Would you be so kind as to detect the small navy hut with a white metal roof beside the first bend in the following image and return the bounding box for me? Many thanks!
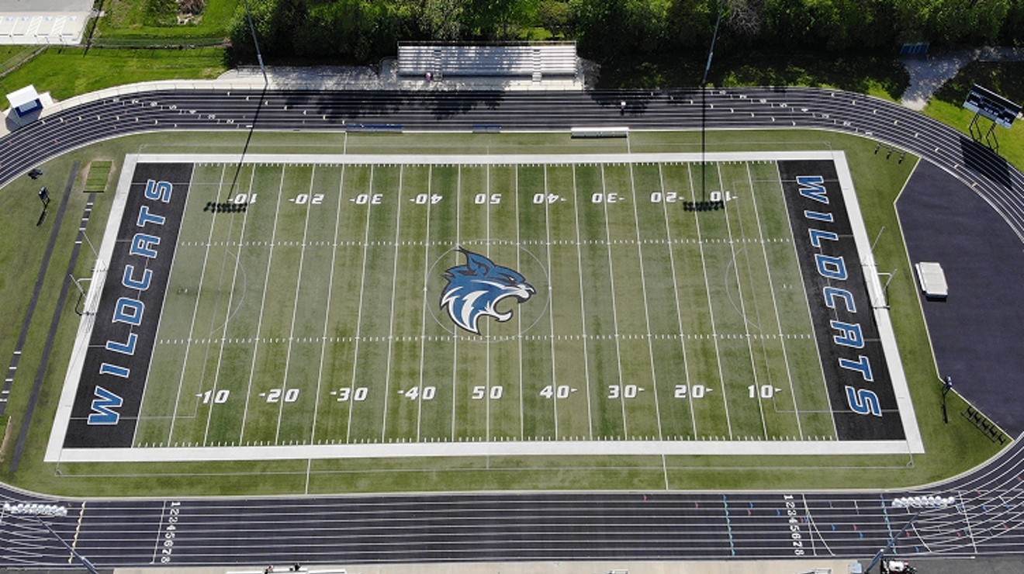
[9,82,49,117]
